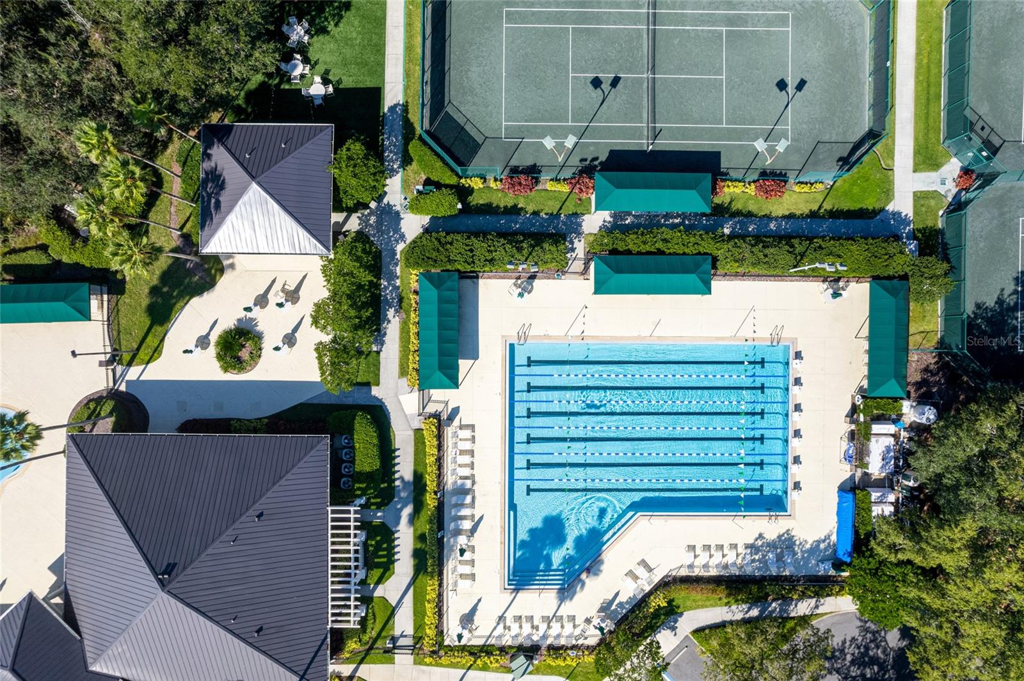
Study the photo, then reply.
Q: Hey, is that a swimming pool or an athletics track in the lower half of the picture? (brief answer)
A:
swimming pool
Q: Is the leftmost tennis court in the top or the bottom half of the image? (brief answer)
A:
top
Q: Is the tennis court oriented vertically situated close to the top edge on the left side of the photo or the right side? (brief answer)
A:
right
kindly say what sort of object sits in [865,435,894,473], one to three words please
shed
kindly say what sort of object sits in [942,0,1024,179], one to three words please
tennis court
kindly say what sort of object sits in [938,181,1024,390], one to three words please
tennis court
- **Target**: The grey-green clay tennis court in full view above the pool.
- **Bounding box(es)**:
[426,0,871,181]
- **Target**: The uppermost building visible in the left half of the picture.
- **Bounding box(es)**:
[198,121,342,258]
